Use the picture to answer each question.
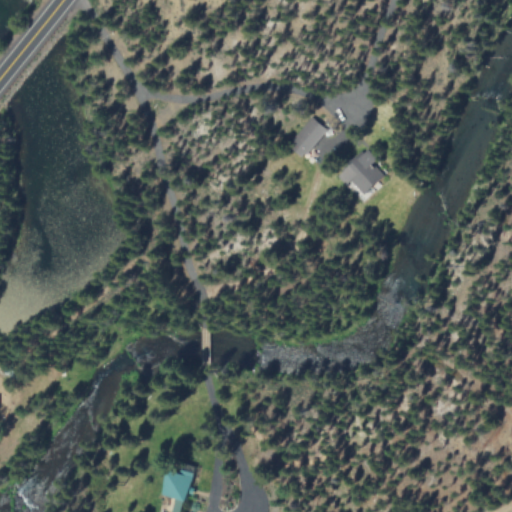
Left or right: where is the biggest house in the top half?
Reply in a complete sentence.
The biggest house in the top half appears in the right half of the scene.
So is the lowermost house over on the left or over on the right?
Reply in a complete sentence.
The lowermost house sits on the left side.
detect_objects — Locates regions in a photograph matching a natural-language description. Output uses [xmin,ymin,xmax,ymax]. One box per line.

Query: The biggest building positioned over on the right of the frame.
[339,150,388,202]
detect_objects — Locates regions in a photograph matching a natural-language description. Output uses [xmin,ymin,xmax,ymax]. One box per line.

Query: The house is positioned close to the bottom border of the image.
[161,464,196,512]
